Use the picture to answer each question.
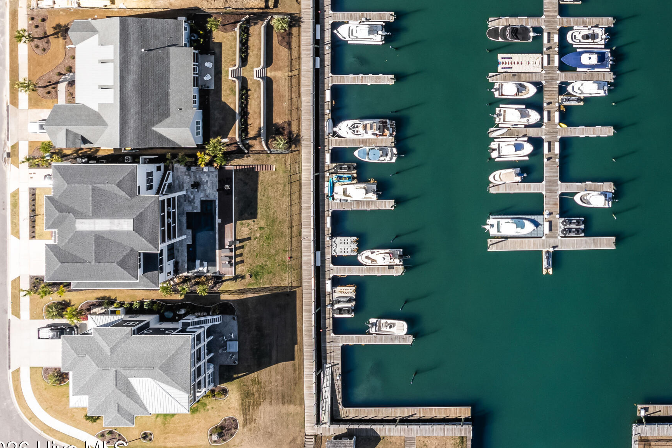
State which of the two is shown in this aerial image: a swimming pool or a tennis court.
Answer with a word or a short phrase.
swimming pool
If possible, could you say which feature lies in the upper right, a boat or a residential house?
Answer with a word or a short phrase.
boat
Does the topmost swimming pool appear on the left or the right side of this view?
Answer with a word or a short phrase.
left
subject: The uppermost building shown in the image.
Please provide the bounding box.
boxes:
[43,17,204,148]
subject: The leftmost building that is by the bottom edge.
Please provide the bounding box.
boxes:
[60,310,227,428]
